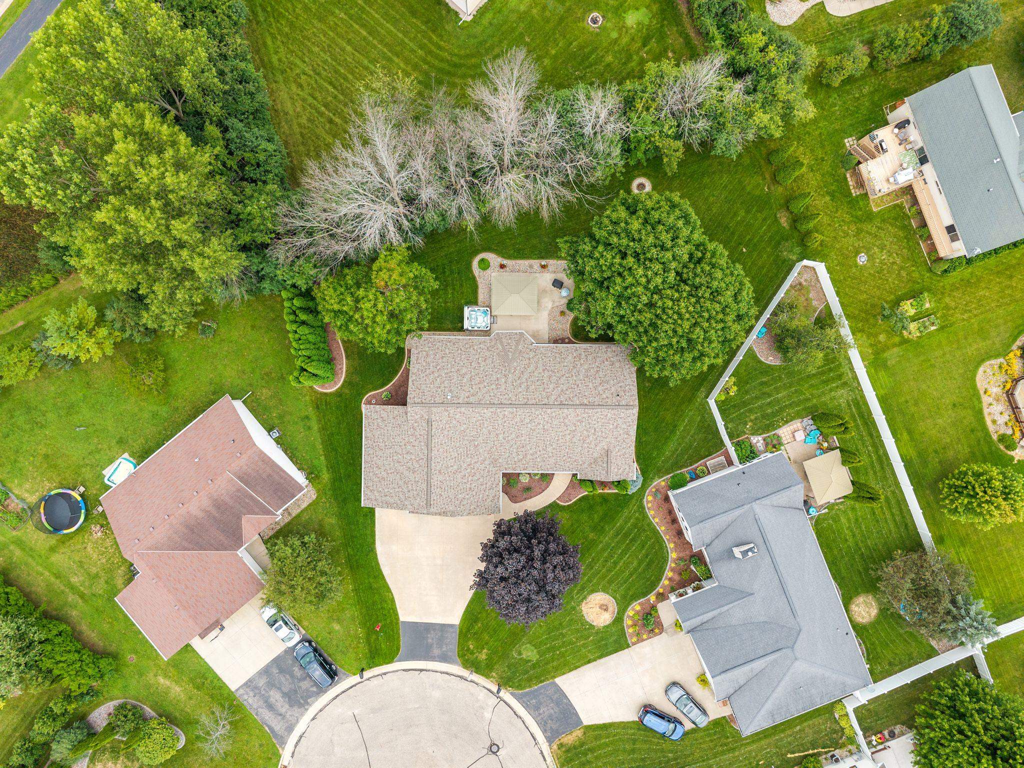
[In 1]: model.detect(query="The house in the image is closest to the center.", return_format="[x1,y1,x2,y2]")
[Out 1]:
[361,329,638,517]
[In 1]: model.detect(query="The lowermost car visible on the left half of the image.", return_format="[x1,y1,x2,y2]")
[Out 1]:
[292,642,339,697]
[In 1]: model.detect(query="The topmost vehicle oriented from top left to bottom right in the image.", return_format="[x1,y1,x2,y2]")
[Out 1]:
[260,602,303,652]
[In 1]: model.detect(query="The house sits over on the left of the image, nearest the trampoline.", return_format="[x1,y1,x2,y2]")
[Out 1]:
[98,393,308,661]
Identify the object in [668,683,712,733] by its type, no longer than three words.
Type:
car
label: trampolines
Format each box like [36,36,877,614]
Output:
[30,487,97,537]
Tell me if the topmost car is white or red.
white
